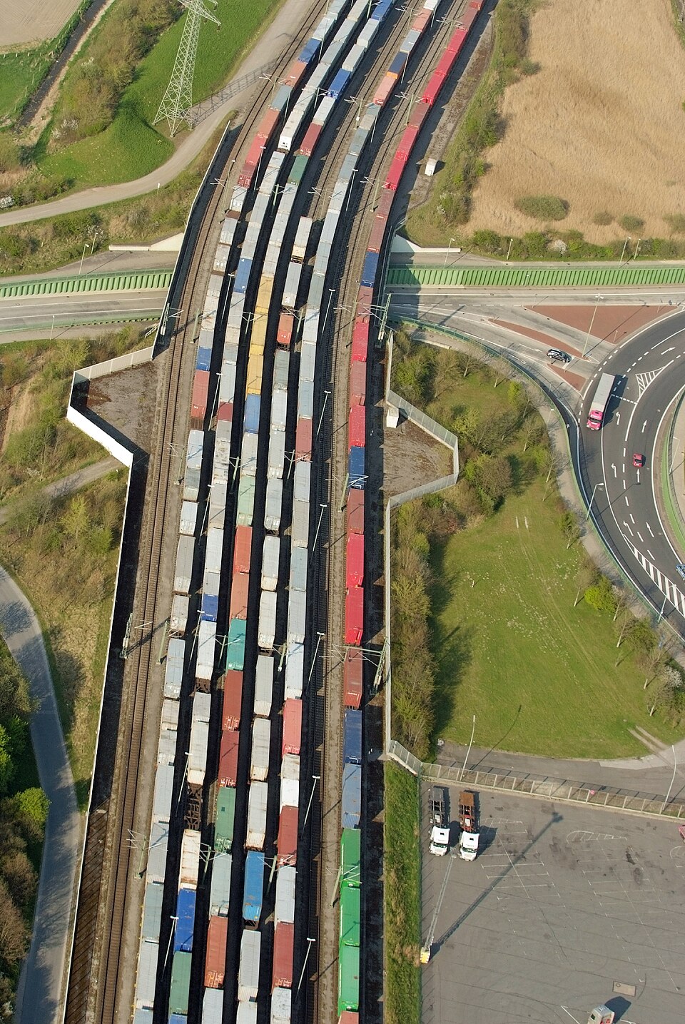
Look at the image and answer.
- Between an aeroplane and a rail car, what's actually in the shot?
rail car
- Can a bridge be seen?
Yes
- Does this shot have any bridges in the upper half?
Yes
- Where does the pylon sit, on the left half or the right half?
left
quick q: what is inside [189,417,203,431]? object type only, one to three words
rail car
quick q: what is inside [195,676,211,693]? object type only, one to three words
rail car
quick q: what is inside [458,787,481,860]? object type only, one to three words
truck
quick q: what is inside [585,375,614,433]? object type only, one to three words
truck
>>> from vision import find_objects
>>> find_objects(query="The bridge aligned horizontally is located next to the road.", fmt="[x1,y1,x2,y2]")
[163,235,395,335]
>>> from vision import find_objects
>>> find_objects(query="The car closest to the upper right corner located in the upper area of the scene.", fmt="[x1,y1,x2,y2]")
[547,348,571,362]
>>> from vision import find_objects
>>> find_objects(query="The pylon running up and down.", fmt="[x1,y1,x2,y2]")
[157,0,221,139]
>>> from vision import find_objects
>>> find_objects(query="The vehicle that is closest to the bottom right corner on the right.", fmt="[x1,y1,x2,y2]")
[588,1003,624,1024]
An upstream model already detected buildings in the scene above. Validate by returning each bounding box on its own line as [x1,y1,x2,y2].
[424,159,439,176]
[386,407,400,428]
